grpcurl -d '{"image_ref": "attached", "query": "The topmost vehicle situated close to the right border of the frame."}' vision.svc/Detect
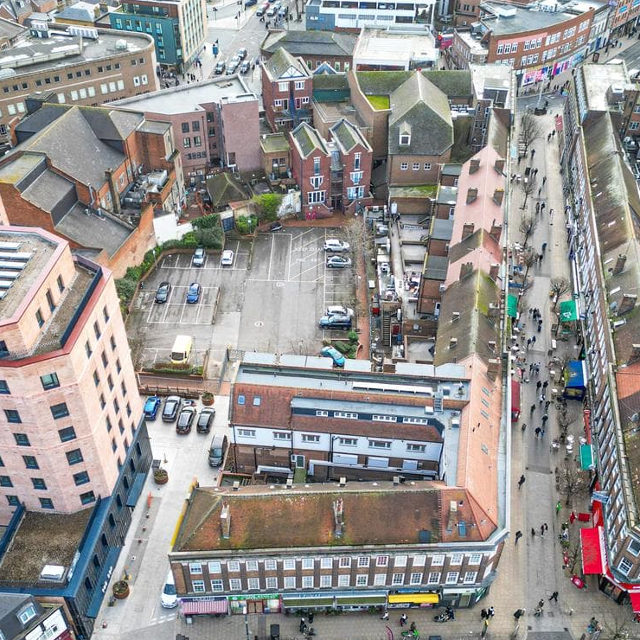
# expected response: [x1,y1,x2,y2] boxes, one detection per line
[627,65,640,78]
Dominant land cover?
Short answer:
buildings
